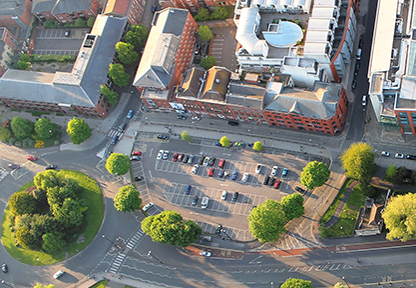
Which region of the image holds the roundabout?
bottom left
